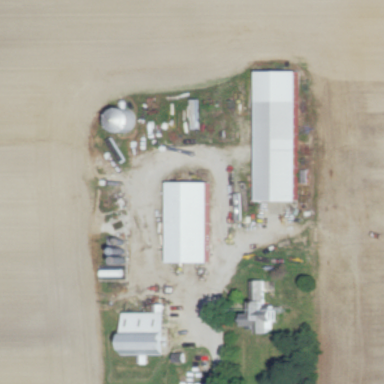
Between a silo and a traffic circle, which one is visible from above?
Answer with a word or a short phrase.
silo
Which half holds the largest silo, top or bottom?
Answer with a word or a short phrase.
top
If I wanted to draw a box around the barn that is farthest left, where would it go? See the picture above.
[113,304,168,366]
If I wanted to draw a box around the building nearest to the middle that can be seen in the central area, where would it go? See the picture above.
[162,182,209,264]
